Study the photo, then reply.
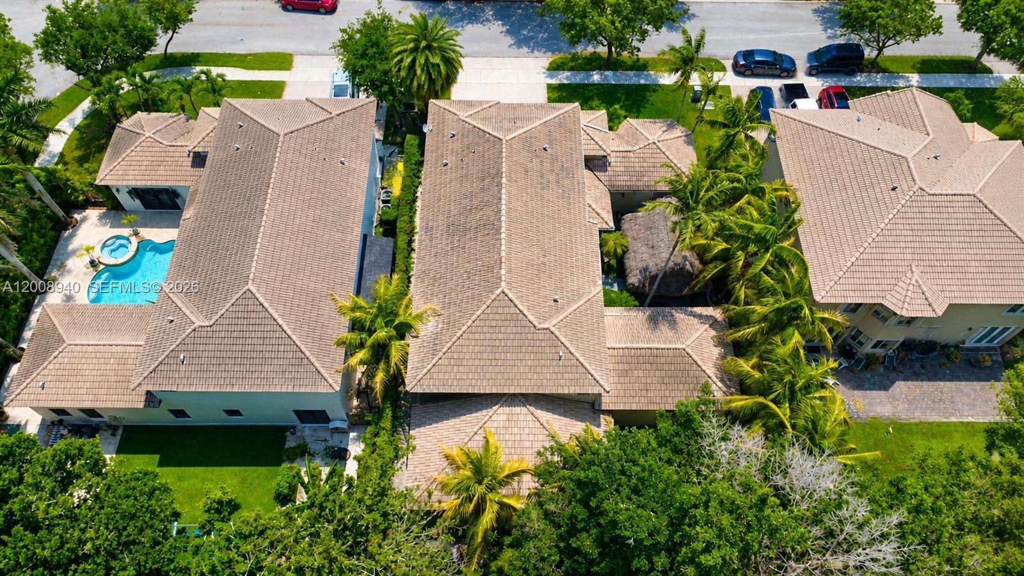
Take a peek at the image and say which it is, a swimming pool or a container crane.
swimming pool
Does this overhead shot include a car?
Yes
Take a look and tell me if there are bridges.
No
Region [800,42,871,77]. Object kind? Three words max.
car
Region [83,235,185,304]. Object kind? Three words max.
swimming pool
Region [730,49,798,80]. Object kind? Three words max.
car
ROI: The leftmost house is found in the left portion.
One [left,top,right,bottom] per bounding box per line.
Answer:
[2,94,380,423]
